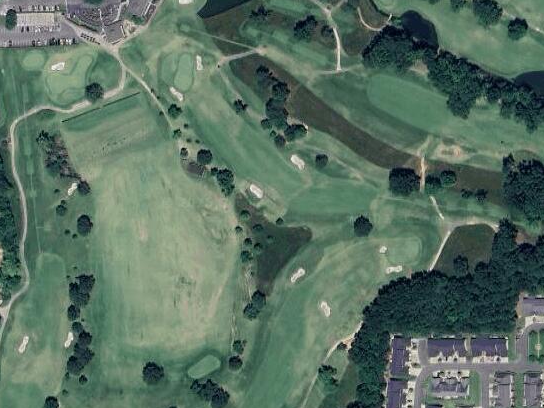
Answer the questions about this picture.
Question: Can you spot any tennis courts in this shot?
No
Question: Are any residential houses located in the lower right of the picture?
Yes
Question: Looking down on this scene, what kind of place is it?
golf course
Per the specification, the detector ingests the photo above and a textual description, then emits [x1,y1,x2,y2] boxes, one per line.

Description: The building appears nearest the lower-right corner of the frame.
[523,374,543,408]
